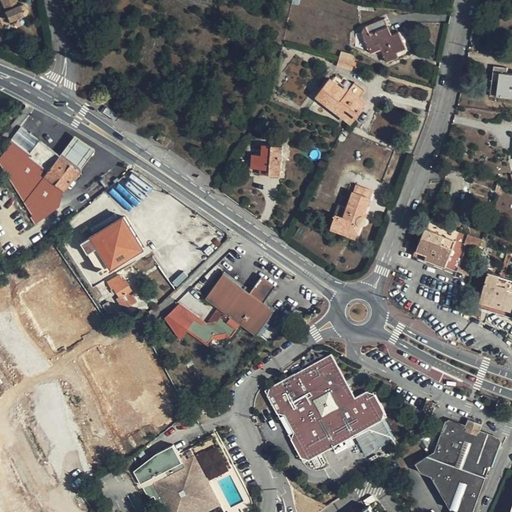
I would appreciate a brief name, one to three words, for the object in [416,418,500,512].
building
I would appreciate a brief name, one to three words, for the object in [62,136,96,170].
shed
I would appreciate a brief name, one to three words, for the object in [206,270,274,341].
building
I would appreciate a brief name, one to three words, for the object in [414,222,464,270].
house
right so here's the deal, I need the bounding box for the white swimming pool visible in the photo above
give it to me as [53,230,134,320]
[211,468,252,512]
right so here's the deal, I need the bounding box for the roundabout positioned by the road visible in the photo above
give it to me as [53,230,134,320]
[311,270,404,345]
